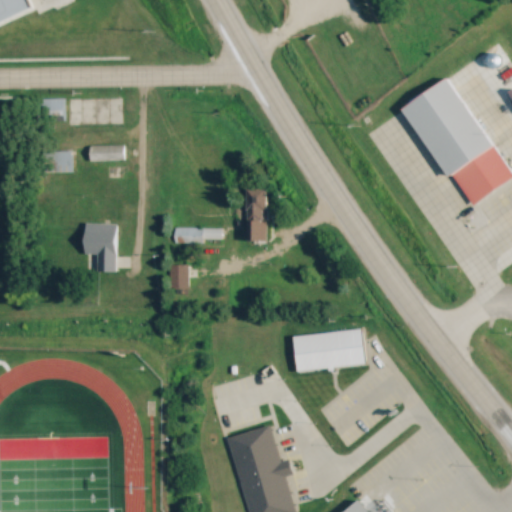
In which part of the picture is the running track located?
bottom left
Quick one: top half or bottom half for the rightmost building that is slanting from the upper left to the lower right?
top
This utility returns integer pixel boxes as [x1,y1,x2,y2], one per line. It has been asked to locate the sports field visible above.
[0,380,124,512]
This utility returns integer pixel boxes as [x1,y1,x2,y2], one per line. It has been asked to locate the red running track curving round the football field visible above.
[0,358,146,512]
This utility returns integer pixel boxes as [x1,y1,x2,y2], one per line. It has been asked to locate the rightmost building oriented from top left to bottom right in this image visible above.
[402,78,512,206]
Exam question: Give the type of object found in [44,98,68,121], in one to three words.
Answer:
shed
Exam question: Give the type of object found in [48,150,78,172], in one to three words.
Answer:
shed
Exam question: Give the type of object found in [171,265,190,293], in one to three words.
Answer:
house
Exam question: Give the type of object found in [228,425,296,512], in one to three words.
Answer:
building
